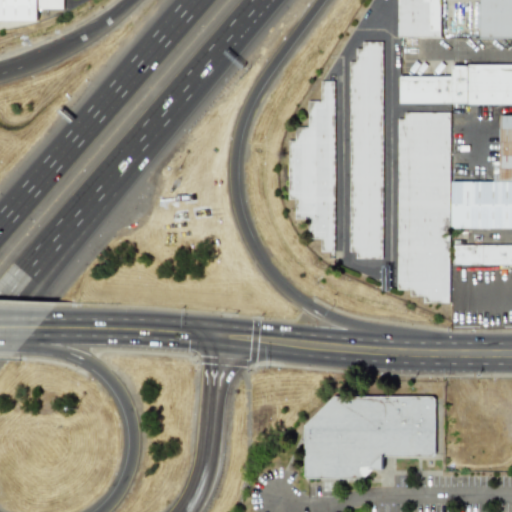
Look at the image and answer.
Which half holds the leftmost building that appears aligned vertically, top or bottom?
top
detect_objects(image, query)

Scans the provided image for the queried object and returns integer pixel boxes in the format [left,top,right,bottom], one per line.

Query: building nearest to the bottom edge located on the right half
[304,396,438,479]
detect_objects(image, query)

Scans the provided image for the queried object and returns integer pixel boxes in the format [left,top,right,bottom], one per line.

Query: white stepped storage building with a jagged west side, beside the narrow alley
[292,80,336,254]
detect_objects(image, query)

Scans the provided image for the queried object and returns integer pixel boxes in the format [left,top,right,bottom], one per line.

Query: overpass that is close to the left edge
[0,301,102,382]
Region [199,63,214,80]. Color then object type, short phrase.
white vehicle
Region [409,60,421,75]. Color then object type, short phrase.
white vehicle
